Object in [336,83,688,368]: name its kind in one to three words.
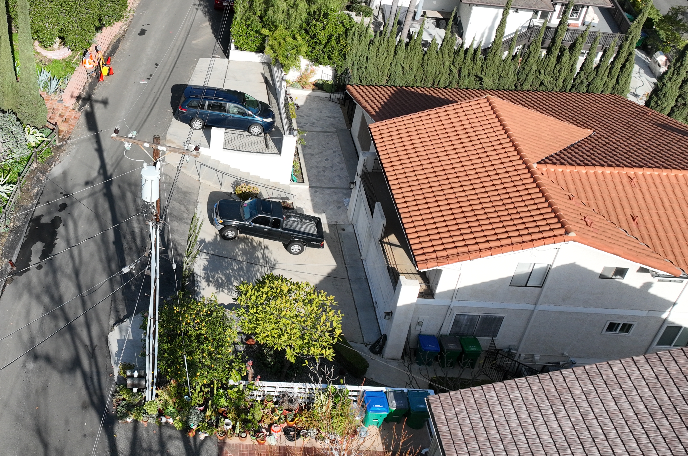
house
